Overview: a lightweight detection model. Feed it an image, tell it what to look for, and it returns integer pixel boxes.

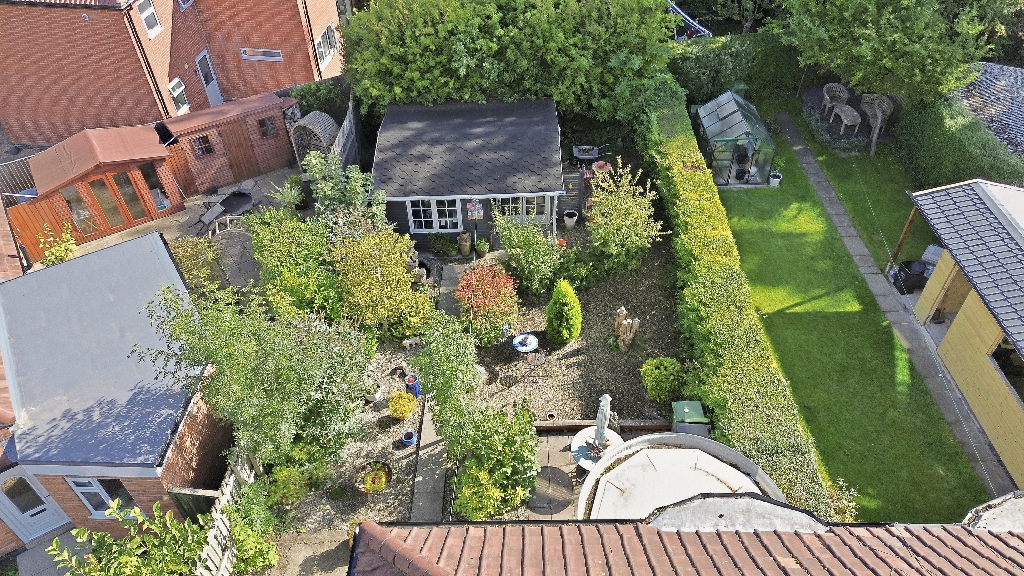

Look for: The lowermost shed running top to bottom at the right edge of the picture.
[886,176,1024,489]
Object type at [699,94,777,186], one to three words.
greenhouse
